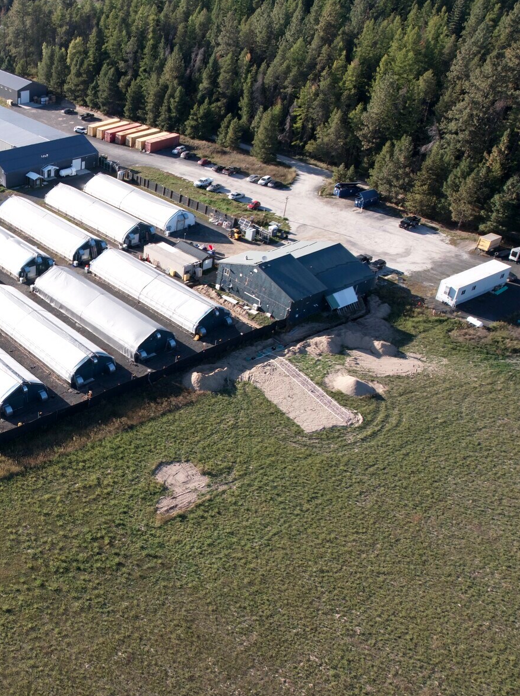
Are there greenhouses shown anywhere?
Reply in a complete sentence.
Yes, the frame does contain a greenhouse.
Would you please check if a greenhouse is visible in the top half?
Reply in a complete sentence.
Yes, you'll find a greenhouse in the top half.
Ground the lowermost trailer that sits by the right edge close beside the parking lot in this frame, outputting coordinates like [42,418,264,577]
[437,257,518,306]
